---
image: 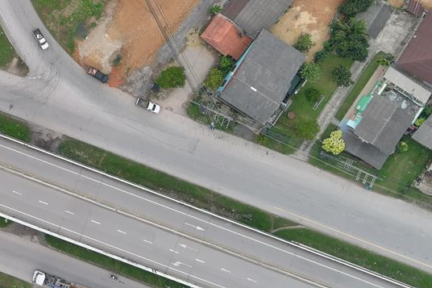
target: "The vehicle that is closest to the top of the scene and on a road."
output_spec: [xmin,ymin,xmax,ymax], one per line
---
[30,26,49,52]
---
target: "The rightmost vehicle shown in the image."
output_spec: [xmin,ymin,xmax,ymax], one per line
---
[134,96,160,114]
